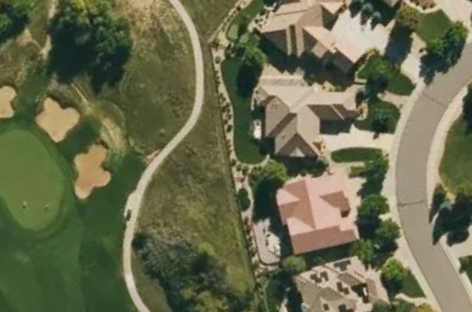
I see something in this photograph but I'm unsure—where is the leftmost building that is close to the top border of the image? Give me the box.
[257,0,370,71]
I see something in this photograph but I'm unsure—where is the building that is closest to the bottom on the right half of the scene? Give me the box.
[296,256,391,312]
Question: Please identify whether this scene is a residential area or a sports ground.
residential area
